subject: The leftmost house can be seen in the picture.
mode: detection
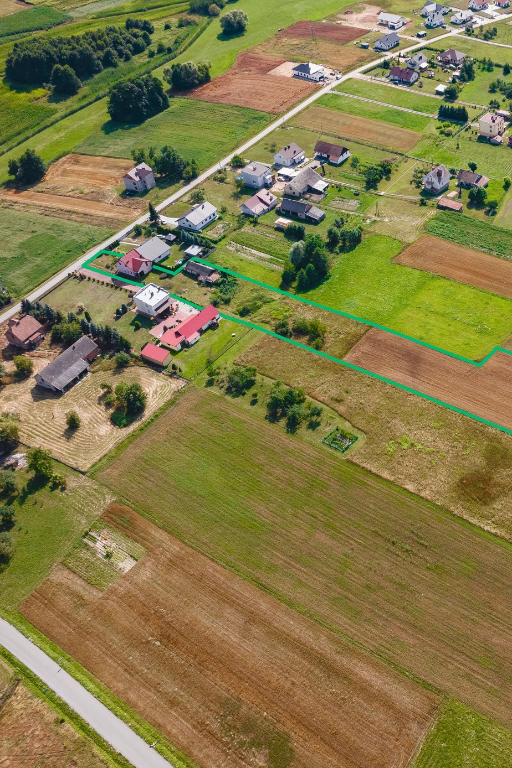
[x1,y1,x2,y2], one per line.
[4,315,47,346]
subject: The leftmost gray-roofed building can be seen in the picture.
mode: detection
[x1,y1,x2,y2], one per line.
[32,335,102,396]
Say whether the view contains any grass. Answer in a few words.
Yes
